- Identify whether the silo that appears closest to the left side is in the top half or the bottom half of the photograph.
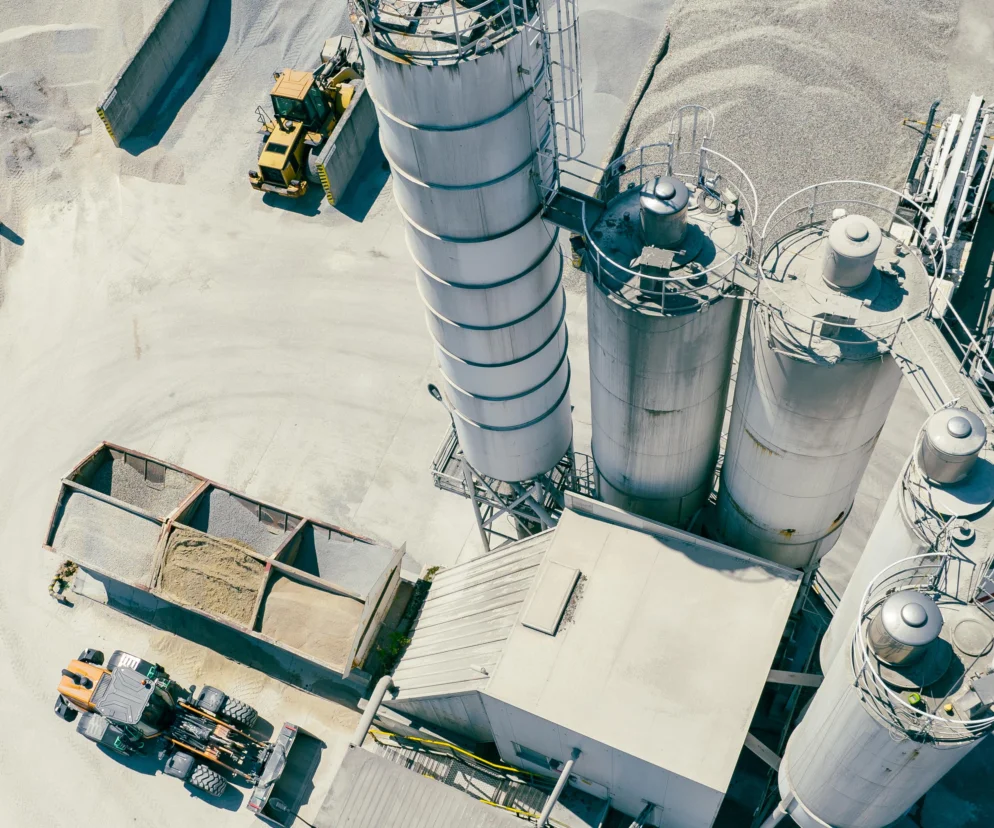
top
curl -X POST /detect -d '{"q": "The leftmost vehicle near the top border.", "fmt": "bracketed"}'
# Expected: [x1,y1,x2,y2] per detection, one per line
[249,32,362,194]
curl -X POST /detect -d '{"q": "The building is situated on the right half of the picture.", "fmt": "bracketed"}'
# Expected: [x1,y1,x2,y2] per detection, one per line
[385,489,808,828]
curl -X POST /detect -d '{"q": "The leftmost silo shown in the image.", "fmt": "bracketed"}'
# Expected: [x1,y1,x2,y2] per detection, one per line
[348,0,596,552]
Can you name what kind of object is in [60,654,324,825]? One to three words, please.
work vehicle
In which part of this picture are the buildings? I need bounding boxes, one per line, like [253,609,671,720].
[385,489,808,828]
[306,745,528,828]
